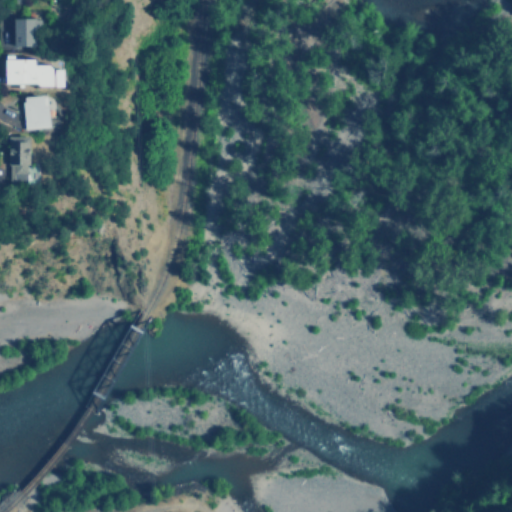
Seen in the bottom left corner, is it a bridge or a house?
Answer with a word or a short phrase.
bridge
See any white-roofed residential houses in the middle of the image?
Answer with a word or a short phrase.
No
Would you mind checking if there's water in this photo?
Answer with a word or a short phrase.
Yes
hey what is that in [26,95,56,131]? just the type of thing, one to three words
house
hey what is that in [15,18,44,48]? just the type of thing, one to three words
house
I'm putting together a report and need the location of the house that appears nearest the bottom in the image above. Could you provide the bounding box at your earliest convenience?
[10,137,40,182]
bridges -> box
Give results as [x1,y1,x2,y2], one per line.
[16,308,154,498]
